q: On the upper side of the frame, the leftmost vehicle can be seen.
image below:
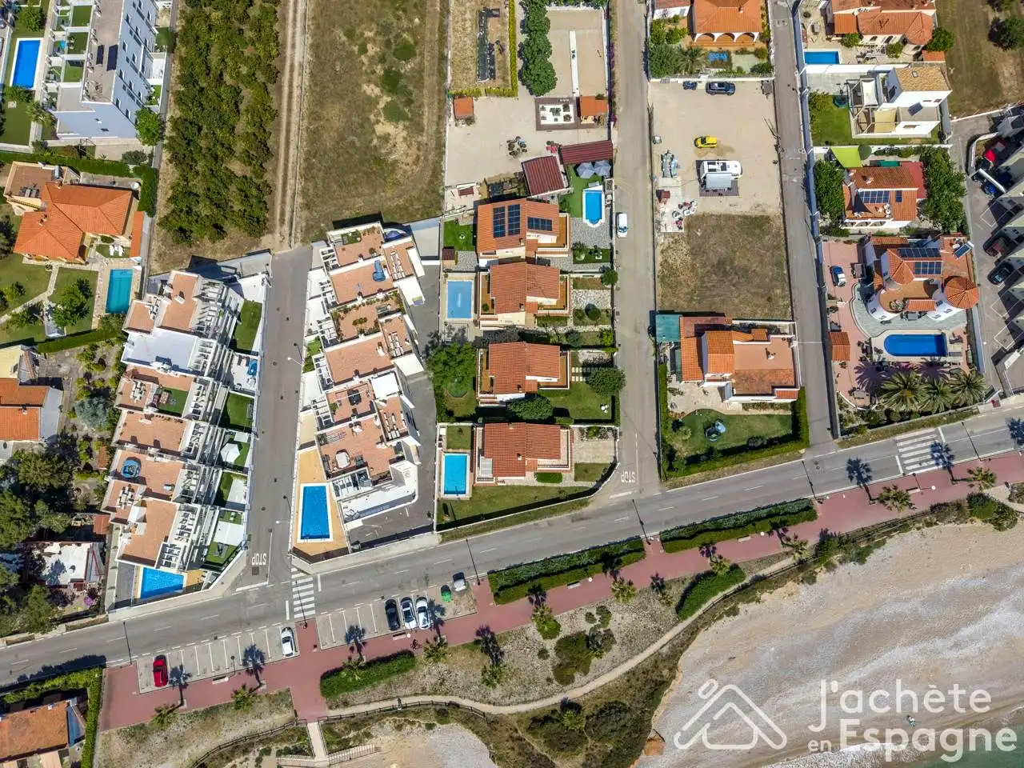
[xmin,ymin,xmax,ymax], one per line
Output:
[615,208,630,239]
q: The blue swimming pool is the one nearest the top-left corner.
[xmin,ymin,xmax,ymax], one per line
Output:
[10,37,43,90]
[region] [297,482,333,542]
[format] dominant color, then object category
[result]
blue swimming pool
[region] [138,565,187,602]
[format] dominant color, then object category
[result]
blue swimming pool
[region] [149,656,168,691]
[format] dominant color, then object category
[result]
red car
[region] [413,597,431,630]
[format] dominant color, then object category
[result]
white car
